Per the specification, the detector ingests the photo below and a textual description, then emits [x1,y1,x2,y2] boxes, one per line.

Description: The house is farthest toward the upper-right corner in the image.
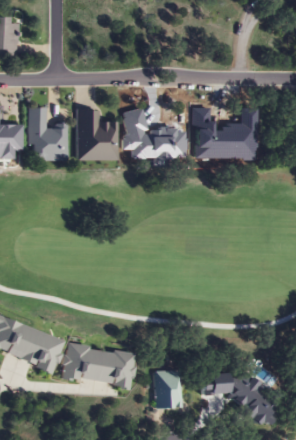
[190,108,260,159]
